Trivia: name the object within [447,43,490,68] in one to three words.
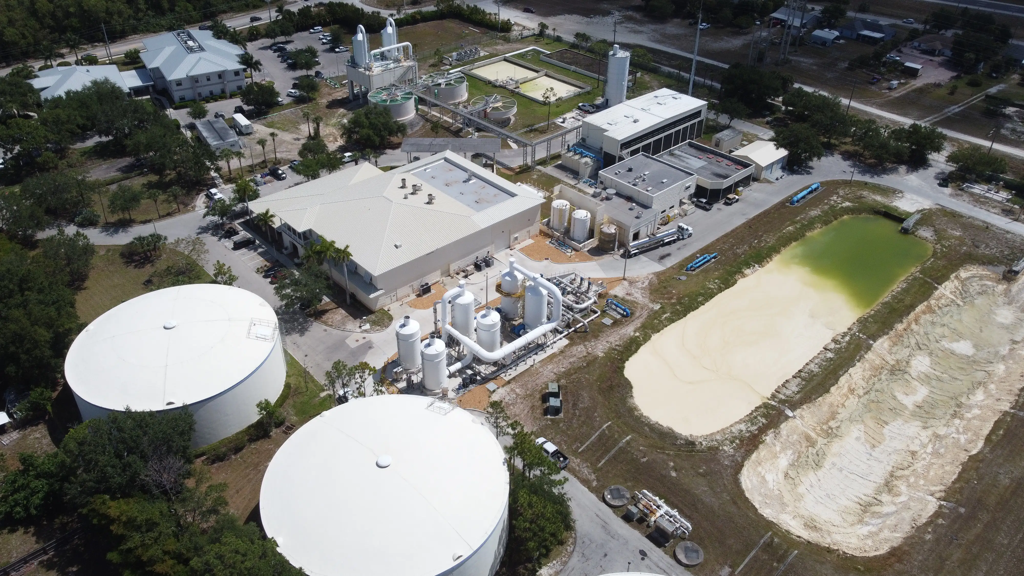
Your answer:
building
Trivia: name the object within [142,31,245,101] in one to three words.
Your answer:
building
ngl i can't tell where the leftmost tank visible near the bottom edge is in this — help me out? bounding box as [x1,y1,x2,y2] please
[259,389,510,576]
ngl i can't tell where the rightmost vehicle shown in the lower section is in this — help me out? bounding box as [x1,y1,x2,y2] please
[538,434,569,464]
